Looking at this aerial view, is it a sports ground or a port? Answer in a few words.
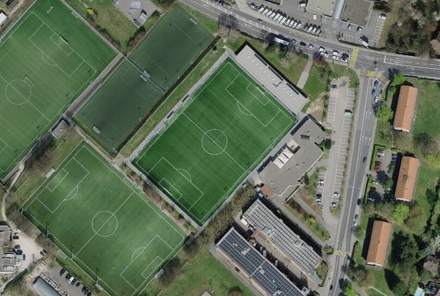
sports ground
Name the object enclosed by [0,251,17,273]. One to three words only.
building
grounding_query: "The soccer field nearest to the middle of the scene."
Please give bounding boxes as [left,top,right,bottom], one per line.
[132,56,298,225]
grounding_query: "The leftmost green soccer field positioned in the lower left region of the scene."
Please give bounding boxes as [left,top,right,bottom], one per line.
[20,139,190,296]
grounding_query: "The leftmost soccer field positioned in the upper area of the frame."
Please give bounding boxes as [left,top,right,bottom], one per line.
[0,0,120,180]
